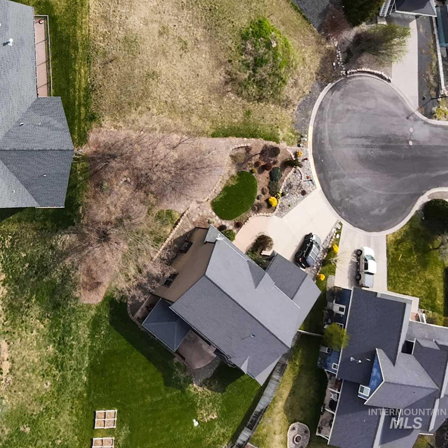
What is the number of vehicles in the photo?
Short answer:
two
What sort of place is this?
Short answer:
residential area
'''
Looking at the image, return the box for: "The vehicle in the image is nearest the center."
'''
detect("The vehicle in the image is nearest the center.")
[296,231,322,270]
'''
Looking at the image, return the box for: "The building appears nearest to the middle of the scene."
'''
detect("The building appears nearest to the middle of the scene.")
[136,236,325,387]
